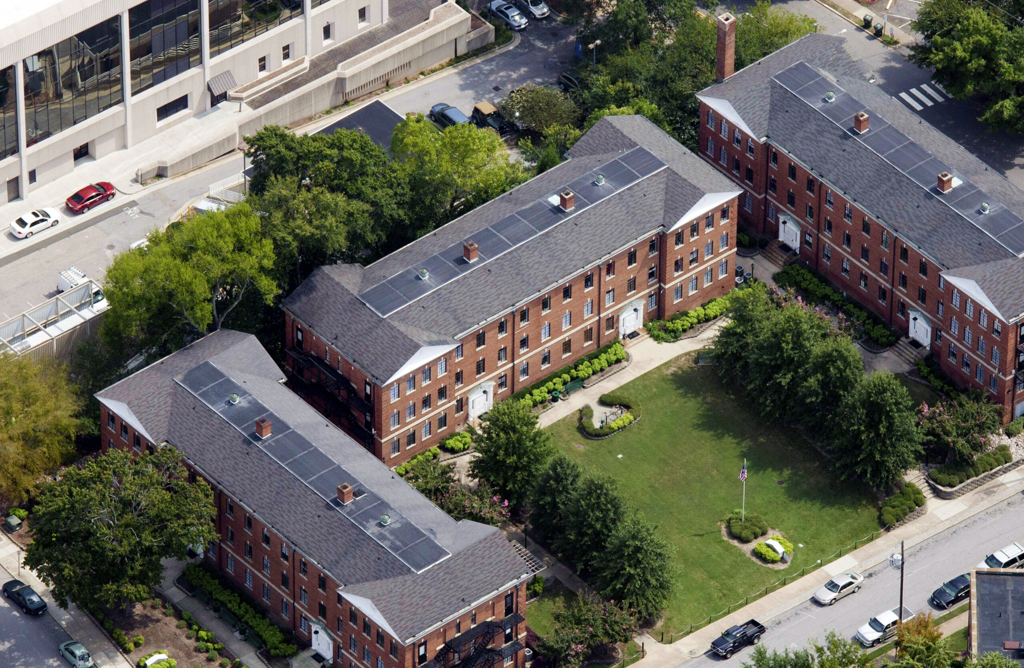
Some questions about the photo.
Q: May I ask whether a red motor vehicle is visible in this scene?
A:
Yes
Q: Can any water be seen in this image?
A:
No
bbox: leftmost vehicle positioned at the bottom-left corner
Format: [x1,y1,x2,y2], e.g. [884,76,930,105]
[0,582,49,620]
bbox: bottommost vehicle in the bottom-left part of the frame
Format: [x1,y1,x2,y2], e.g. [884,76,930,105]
[57,641,96,668]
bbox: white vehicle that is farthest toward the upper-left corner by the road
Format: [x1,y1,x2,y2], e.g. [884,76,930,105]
[9,210,61,243]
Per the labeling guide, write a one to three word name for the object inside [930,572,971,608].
car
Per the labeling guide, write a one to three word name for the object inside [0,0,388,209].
building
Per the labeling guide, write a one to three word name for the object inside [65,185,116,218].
car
